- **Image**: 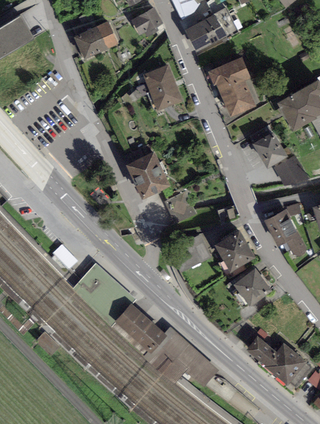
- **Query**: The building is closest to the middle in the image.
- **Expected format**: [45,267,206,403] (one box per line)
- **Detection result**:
[165,192,197,223]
